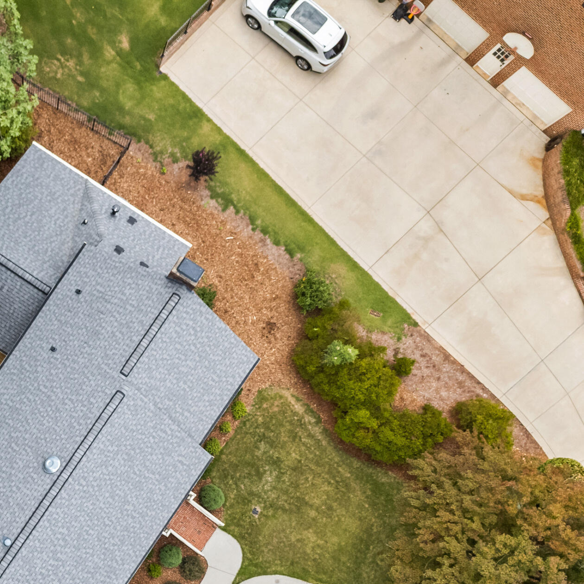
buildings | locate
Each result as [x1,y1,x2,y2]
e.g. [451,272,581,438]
[0,139,264,584]
[395,0,584,138]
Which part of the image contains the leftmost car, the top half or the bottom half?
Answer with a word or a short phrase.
top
